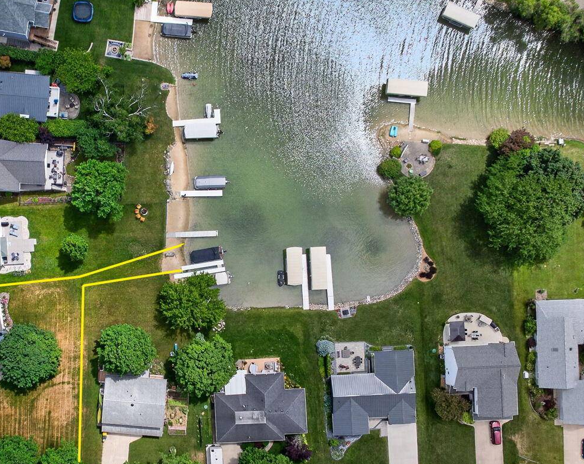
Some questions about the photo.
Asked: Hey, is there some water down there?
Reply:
Yes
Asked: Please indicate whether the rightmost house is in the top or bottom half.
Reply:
bottom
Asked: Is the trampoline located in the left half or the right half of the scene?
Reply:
left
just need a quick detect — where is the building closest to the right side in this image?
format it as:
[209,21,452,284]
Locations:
[532,298,584,426]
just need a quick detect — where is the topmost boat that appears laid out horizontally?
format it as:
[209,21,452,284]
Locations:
[161,24,194,38]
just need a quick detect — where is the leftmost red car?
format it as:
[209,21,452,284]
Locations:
[490,420,503,445]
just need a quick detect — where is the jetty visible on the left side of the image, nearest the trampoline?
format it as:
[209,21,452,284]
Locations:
[150,2,193,25]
